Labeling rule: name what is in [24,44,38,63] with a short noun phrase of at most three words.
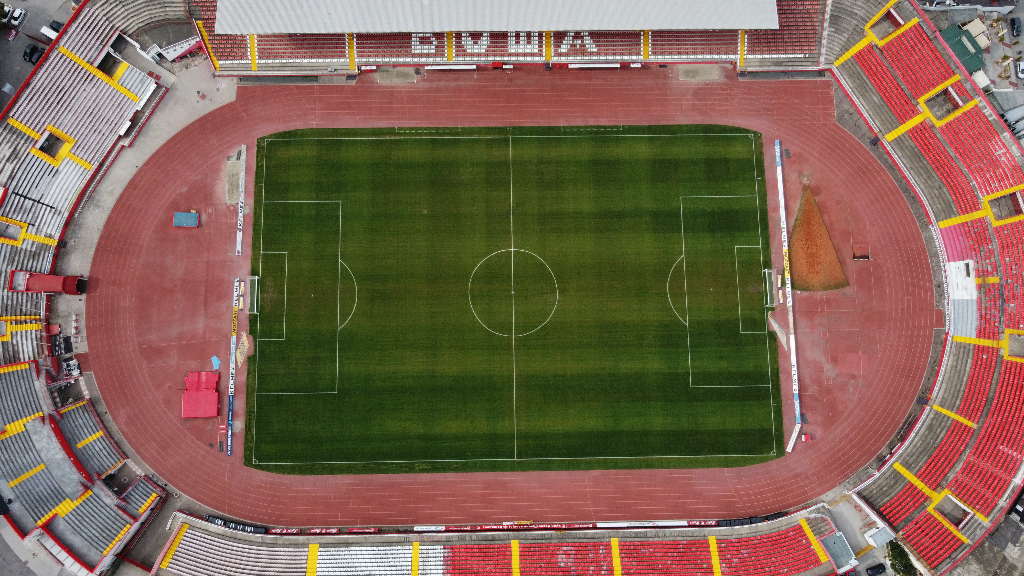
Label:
car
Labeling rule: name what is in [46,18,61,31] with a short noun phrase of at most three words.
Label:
vehicle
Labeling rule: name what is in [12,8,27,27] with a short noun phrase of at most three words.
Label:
car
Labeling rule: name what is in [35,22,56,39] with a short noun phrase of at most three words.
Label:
vehicle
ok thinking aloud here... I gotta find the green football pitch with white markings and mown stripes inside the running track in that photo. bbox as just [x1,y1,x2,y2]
[244,124,784,475]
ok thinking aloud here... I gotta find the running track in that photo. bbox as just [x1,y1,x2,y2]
[73,65,941,526]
